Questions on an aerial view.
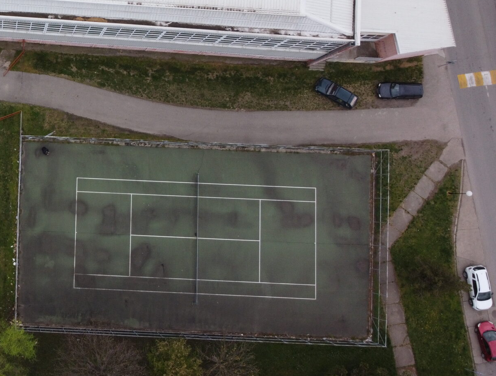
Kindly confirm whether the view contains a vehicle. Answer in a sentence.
Yes, a vehicle is visible in the scene.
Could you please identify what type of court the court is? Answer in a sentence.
The court appears to be a tennis court.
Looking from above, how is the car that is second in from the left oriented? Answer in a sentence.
The car that is second in from the left is oriented from side to side.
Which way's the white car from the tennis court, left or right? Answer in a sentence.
To the right of the tennis court is where the white car appears.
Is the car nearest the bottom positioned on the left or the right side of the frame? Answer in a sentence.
The car nearest the bottom is on the right side of the image.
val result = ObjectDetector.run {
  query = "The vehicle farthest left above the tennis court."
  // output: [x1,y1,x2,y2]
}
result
[311,77,360,112]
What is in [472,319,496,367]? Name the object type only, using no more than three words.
car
